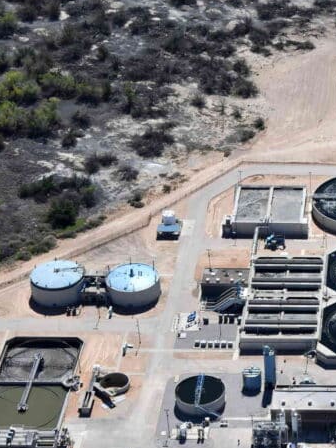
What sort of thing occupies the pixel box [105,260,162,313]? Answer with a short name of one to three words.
storage tank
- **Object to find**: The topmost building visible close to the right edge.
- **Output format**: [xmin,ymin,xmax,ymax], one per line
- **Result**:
[270,384,336,429]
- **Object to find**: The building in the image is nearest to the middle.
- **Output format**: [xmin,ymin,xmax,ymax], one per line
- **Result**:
[200,266,252,308]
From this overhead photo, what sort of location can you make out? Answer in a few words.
industrial area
